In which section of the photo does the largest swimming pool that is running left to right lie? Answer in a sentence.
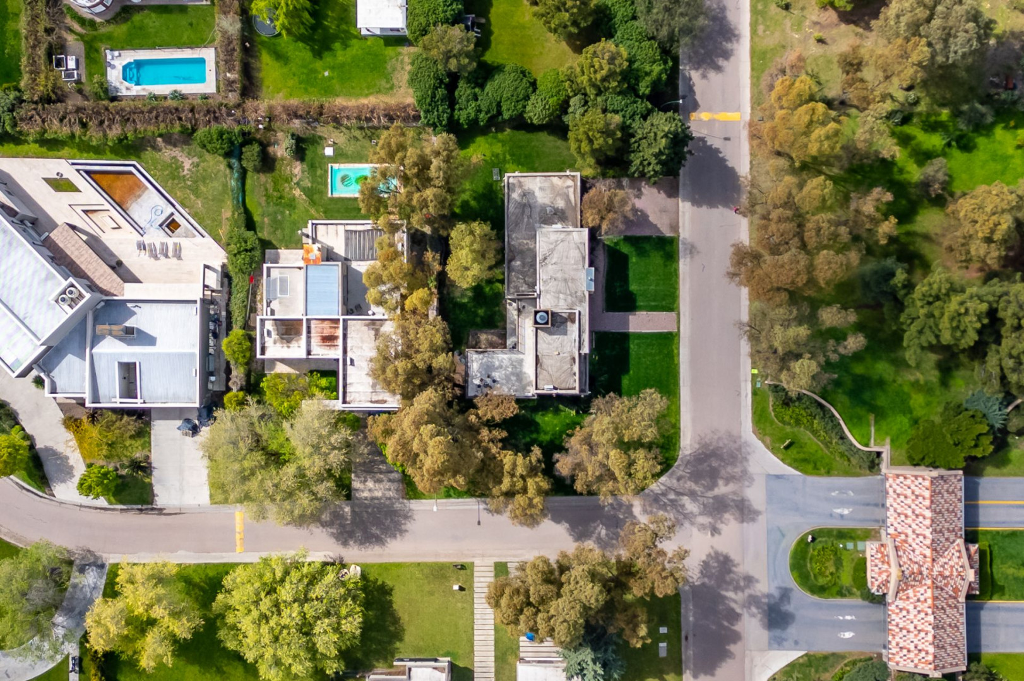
The largest swimming pool that is running left to right is located in the top left region of the scene.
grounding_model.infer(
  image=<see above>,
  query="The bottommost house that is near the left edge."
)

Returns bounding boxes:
[0,176,211,407]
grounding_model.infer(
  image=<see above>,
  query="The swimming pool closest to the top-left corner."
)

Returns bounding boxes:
[106,48,216,96]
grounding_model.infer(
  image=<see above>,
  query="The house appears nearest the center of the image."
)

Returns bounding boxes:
[466,169,594,398]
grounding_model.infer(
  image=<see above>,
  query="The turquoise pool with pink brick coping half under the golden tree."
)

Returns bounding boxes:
[329,164,394,197]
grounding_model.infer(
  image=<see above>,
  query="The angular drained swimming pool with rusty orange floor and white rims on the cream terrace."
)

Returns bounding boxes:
[67,159,212,240]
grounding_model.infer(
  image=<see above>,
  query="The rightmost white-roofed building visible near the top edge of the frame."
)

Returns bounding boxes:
[357,0,409,42]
